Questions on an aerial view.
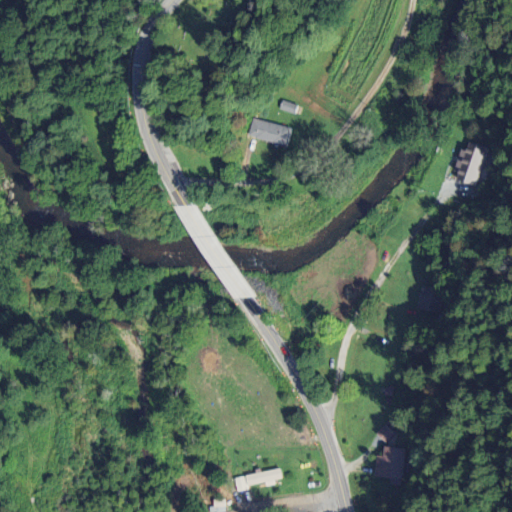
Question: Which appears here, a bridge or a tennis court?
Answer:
bridge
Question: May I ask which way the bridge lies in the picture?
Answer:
on a diagonal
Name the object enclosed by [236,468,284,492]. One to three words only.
house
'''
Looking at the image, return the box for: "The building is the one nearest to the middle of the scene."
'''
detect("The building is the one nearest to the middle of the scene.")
[248,118,292,147]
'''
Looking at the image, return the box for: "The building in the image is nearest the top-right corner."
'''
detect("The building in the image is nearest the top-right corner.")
[453,143,488,188]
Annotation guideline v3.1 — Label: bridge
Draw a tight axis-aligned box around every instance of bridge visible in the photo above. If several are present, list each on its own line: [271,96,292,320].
[175,204,256,300]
